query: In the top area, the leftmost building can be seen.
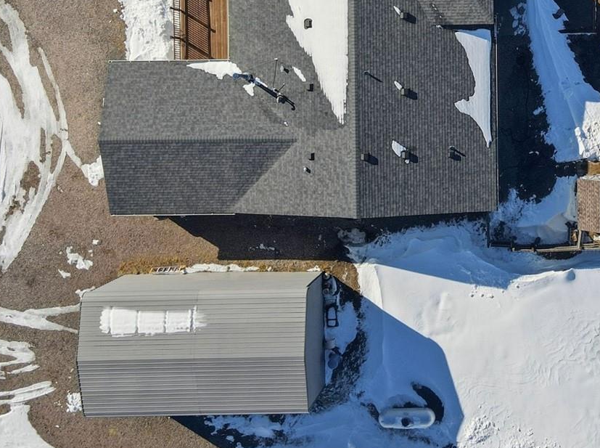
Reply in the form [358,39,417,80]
[99,0,500,219]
